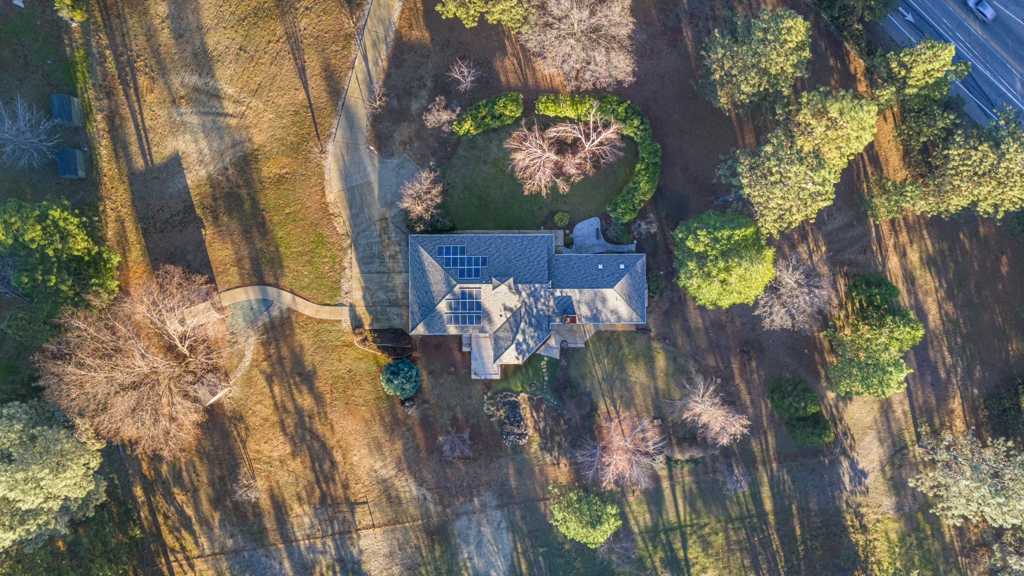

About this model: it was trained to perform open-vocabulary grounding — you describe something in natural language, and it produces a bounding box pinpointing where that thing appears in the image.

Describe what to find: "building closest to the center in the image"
[408,234,646,364]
